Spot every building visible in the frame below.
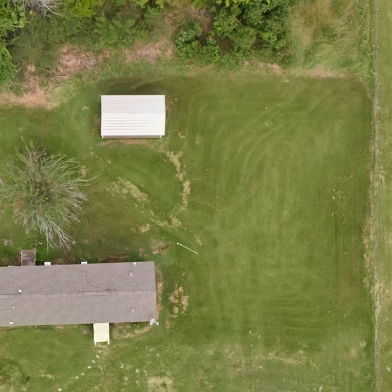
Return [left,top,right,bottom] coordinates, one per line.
[97,95,166,141]
[0,261,157,326]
